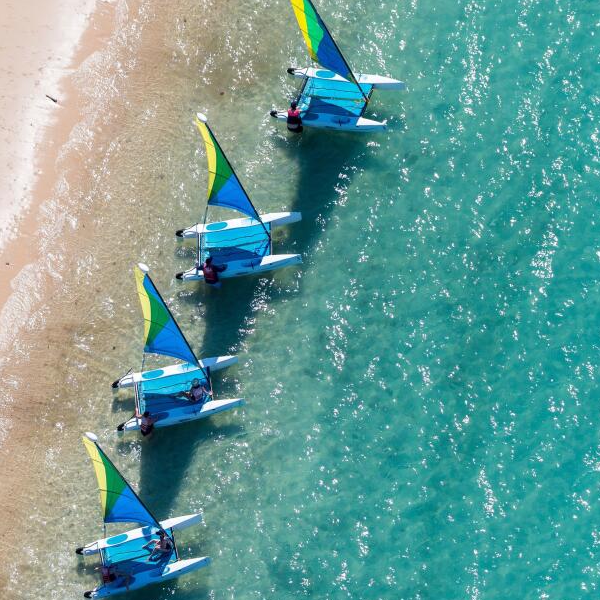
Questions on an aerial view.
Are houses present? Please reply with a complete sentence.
No, no house is visible in the view.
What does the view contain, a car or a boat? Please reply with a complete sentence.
The image shows a boat.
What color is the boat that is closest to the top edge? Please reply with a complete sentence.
From above, the boat that is closest to the top edge appears blue.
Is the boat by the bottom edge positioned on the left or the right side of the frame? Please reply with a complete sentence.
The boat by the bottom edge is on the left side of the image.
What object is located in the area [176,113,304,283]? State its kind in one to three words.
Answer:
boat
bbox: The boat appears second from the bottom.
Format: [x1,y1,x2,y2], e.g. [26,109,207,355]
[112,264,247,434]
